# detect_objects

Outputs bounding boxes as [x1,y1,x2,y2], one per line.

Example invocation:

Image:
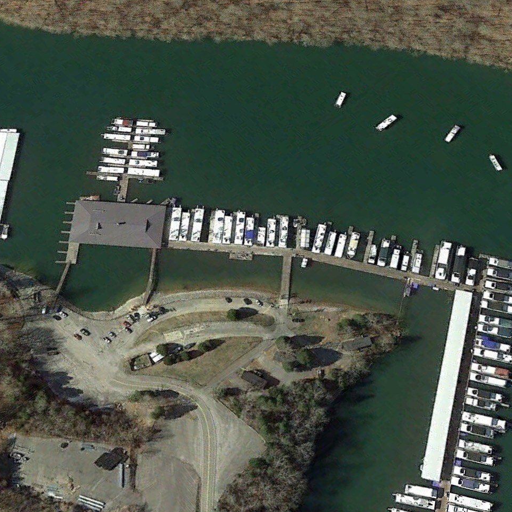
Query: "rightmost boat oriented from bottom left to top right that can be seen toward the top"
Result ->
[445,124,461,143]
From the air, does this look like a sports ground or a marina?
marina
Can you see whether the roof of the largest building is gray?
Yes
